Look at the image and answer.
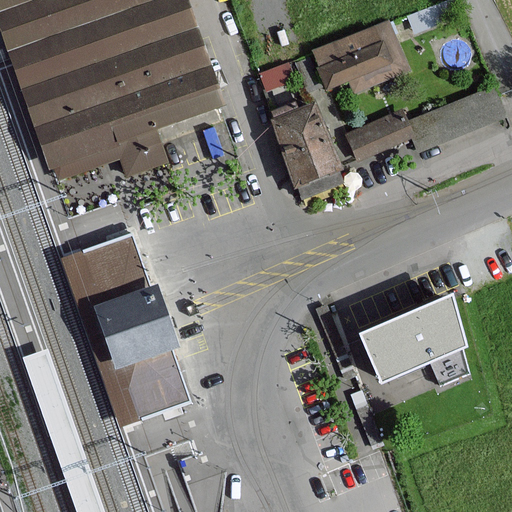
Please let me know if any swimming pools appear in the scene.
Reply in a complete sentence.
Yes, there's a swimming pool here.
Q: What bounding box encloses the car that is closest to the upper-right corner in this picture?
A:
[420,146,441,160]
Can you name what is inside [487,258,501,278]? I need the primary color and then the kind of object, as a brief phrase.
red car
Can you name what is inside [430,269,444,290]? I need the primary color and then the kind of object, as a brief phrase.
black vehicle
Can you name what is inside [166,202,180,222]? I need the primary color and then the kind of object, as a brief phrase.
white vehicle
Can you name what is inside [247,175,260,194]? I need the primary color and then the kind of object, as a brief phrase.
white vehicle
